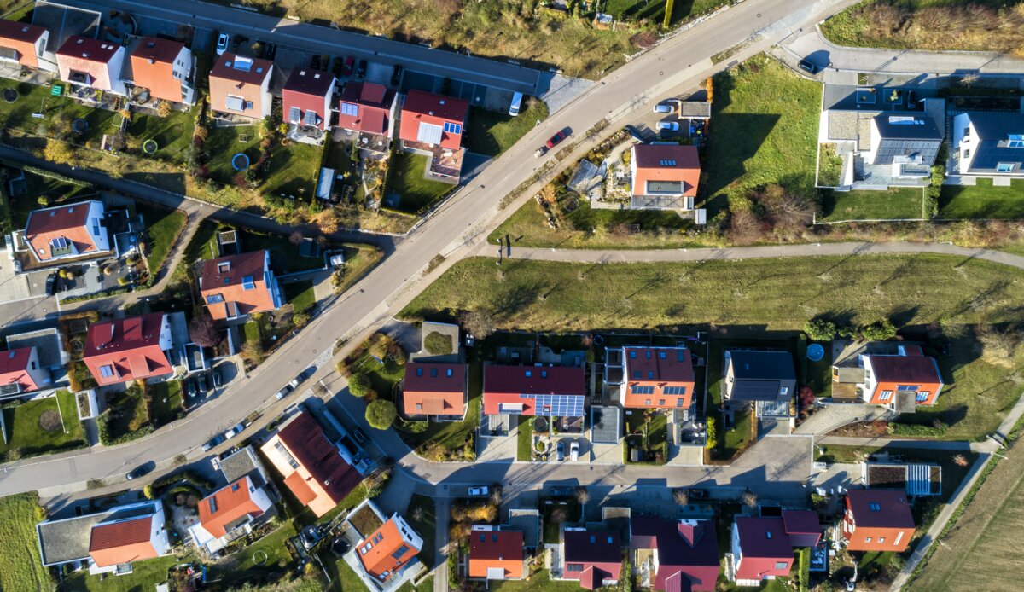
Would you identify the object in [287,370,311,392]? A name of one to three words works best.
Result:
car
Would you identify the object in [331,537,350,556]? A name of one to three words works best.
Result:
trampoline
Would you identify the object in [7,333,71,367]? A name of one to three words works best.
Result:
building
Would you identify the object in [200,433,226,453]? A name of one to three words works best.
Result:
car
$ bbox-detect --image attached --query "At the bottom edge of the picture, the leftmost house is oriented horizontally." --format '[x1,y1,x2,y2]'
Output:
[37,496,169,575]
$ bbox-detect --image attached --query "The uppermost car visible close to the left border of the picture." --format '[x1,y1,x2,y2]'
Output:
[45,271,60,296]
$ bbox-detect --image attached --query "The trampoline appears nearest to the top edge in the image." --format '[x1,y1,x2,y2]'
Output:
[2,87,19,103]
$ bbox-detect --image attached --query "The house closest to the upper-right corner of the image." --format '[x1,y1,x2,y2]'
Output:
[944,112,1024,176]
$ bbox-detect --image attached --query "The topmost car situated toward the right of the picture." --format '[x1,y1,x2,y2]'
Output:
[795,58,818,75]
